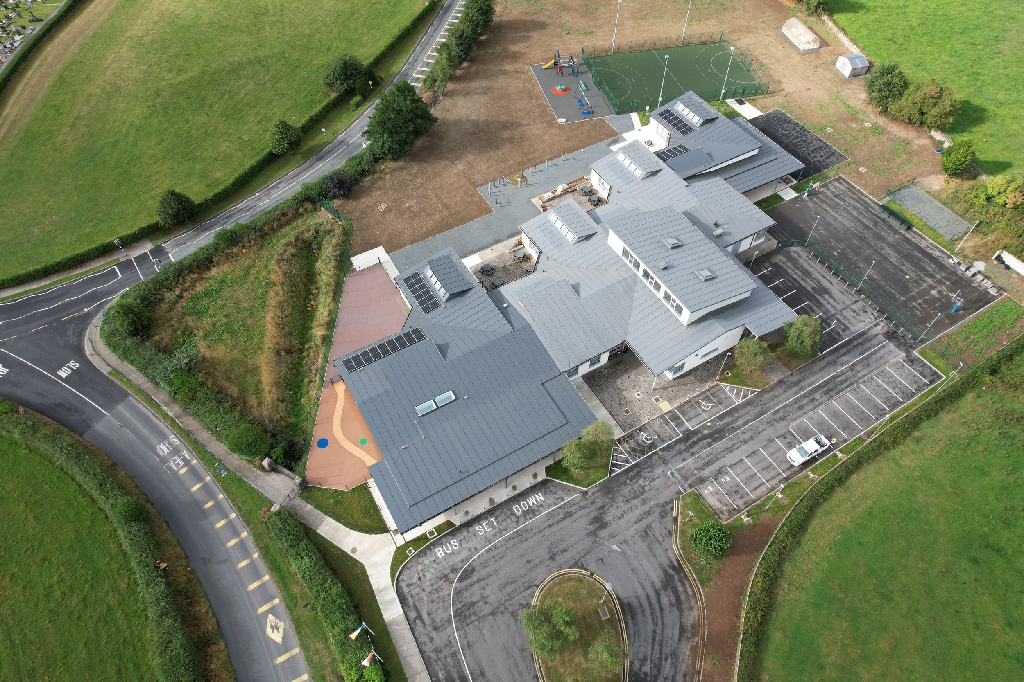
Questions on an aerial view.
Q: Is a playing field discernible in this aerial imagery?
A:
Yes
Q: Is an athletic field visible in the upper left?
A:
No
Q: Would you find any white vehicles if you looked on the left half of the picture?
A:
No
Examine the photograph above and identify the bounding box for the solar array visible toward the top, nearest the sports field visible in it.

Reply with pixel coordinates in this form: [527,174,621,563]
[657,109,694,135]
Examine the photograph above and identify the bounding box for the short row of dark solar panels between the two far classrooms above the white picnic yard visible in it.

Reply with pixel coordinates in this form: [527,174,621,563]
[655,144,690,160]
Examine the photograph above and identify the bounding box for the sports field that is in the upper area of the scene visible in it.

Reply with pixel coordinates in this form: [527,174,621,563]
[583,42,766,114]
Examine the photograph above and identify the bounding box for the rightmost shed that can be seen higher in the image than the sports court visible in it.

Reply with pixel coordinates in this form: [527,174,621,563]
[833,53,871,78]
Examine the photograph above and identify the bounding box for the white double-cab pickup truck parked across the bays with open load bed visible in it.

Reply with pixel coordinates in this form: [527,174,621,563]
[787,433,833,466]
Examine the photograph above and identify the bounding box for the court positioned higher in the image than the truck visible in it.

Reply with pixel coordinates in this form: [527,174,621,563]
[762,175,1006,350]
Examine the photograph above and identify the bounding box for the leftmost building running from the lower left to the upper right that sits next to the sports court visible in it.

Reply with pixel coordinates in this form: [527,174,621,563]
[331,91,806,535]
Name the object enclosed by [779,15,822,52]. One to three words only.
greenhouse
